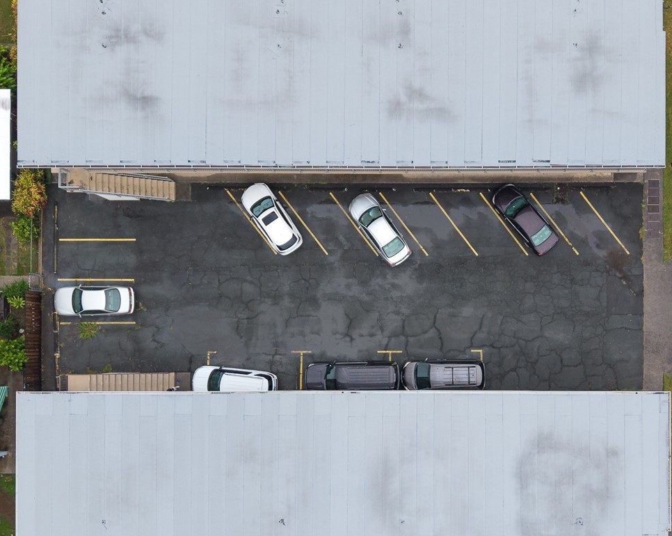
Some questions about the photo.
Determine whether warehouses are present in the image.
No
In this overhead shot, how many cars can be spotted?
7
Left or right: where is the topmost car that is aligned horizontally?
left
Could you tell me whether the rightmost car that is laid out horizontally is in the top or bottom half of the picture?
bottom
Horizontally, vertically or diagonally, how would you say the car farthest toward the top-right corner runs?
diagonally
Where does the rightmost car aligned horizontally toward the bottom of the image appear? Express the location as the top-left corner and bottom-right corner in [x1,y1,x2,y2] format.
[401,359,486,391]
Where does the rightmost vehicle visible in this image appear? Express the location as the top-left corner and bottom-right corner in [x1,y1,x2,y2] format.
[493,184,559,257]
